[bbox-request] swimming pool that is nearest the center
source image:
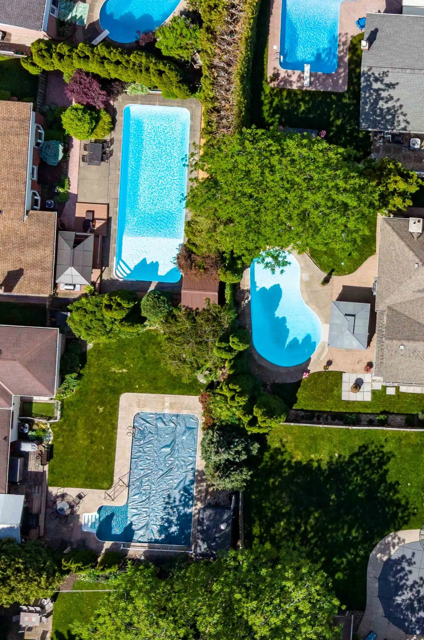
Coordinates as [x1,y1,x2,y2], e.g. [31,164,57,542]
[249,250,323,368]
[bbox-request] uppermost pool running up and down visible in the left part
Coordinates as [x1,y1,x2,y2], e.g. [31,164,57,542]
[114,104,191,283]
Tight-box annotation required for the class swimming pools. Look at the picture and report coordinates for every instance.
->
[273,0,355,74]
[114,104,191,283]
[82,412,199,547]
[249,250,323,368]
[99,0,182,43]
